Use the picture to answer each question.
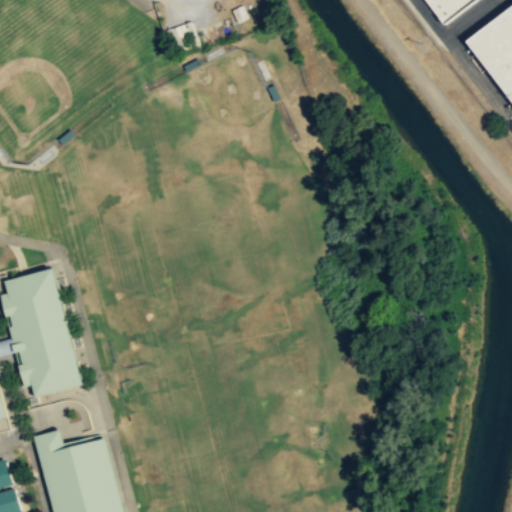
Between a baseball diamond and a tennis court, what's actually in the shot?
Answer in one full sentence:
Looking from above, you can make out a baseball diamond.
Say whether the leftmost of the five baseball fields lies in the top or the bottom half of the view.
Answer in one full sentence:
The leftmost of the five baseball fields is in the top half of the image.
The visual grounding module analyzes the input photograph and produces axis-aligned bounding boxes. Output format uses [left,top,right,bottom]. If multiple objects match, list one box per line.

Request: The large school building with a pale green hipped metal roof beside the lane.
[0,269,80,397]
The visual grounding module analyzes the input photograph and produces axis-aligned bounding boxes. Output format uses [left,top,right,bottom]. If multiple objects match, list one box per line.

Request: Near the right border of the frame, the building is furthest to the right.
[466,6,512,102]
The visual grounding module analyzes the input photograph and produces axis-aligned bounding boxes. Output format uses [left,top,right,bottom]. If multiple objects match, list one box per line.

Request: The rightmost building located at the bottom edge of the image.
[34,431,124,512]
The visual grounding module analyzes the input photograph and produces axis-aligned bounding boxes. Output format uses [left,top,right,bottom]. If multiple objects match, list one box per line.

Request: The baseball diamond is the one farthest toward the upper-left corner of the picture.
[0,0,140,163]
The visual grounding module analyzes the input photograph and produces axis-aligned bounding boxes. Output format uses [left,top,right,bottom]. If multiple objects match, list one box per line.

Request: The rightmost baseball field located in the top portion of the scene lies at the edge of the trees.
[150,49,292,162]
